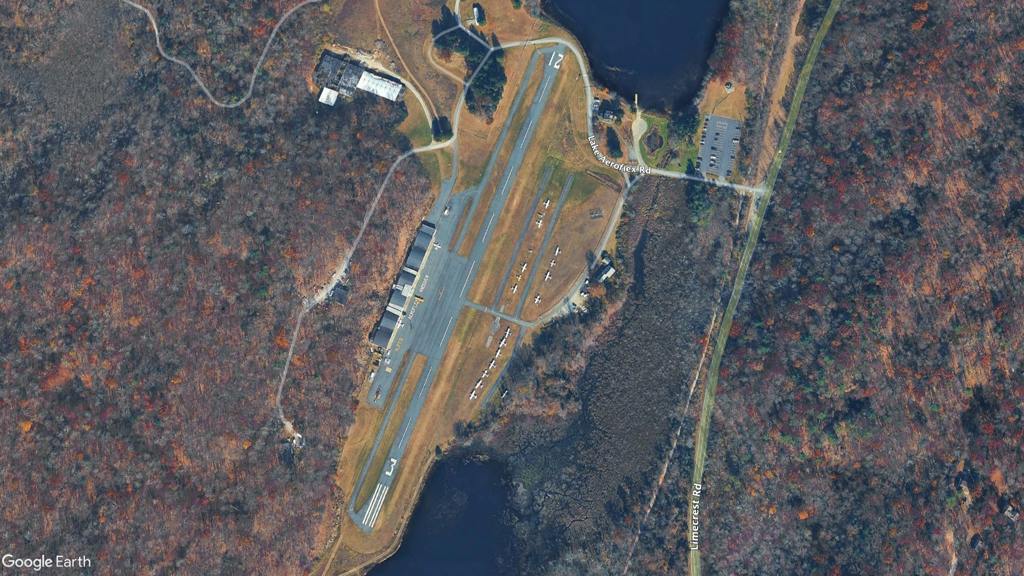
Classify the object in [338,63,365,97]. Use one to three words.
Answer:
building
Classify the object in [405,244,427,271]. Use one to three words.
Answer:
hangar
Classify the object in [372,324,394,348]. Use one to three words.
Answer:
hangar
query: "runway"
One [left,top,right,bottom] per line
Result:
[360,45,566,533]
